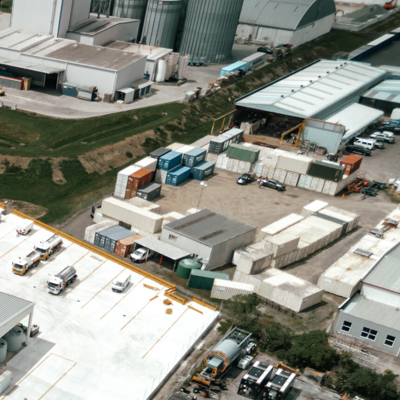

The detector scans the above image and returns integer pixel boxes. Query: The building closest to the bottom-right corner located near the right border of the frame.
[336,235,400,355]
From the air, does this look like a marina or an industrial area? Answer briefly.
industrial area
